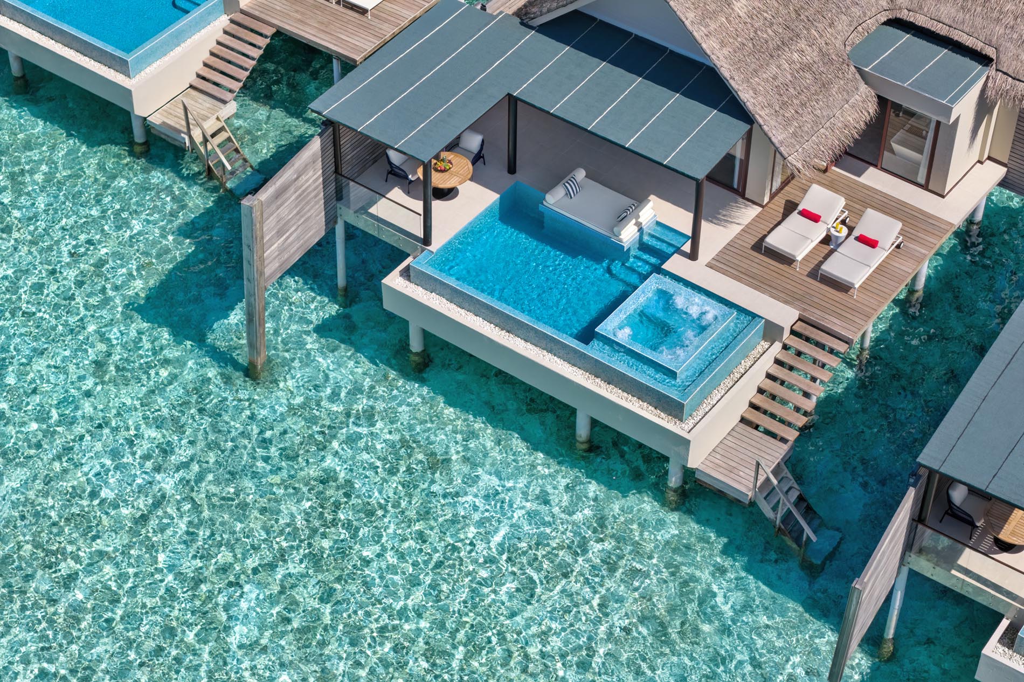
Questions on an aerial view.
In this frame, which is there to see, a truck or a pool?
pool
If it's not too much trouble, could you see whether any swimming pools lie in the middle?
Yes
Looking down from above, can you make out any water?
Yes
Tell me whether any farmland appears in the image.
No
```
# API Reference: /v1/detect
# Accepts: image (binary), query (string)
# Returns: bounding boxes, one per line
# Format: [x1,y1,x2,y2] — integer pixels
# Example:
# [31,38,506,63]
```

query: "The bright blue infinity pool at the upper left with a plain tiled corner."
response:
[0,0,233,141]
